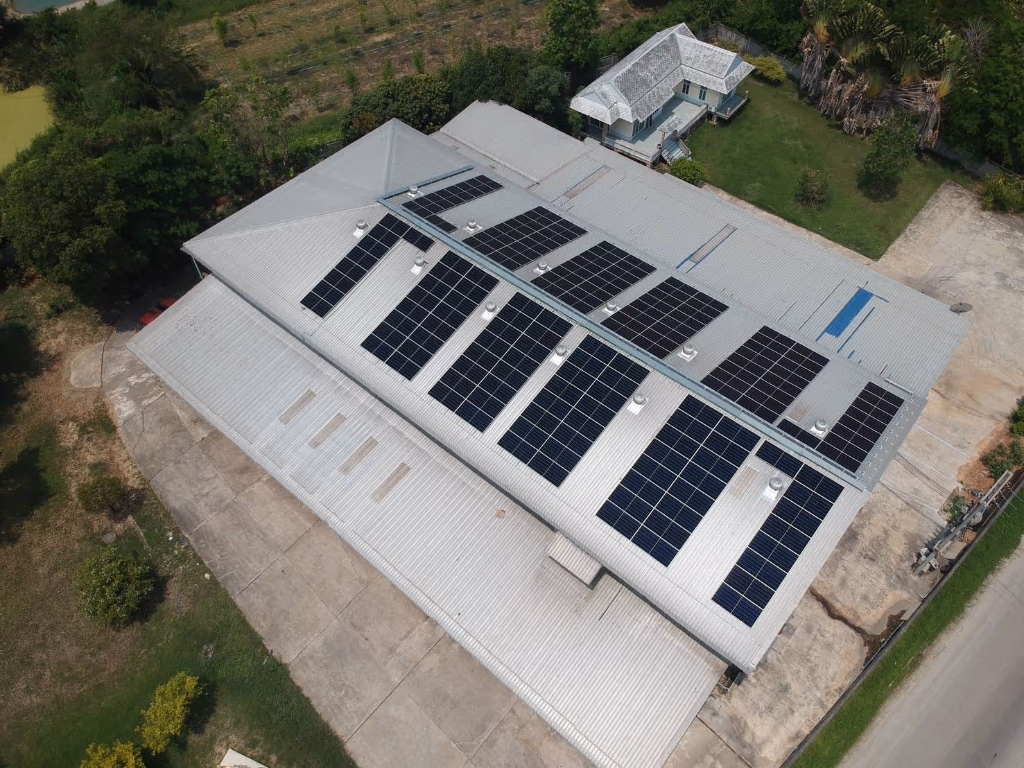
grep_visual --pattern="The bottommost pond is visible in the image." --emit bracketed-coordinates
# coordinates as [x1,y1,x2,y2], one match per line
[0,85,52,162]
